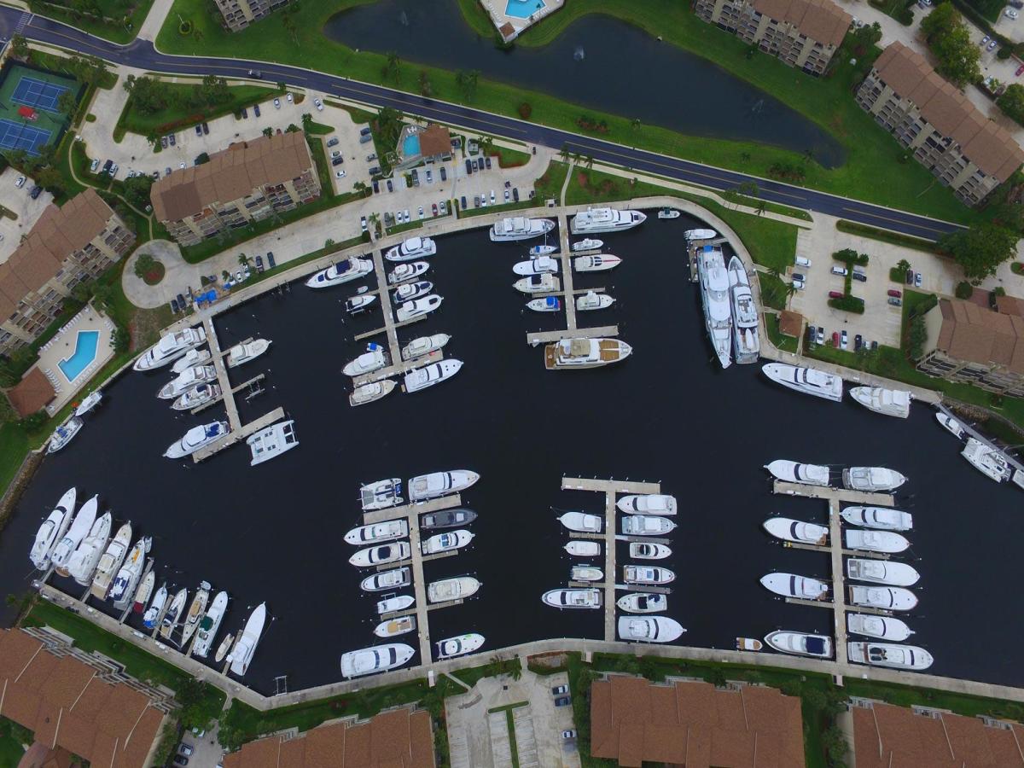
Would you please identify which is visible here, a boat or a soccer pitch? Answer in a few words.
boat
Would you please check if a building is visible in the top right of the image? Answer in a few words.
Yes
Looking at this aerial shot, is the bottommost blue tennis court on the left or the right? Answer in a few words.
left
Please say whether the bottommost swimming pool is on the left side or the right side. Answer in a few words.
left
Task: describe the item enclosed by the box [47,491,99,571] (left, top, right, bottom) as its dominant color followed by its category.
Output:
white boat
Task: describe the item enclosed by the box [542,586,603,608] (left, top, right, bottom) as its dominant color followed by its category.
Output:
white boat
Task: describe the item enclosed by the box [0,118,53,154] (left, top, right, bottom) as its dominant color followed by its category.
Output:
blue tennis court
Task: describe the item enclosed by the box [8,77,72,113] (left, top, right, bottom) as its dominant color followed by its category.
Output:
blue tennis court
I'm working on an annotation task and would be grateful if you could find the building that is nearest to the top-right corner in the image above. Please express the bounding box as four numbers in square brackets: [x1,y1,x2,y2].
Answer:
[856,44,1024,197]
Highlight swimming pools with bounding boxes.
[480,0,564,43]
[395,123,424,162]
[35,306,117,418]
